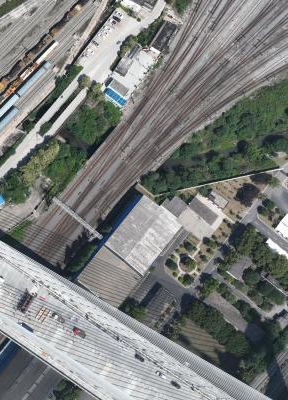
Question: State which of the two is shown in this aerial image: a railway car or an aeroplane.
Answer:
railway car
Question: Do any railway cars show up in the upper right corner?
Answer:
No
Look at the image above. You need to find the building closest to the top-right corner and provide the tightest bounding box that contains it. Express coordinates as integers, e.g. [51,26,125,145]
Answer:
[149,20,178,51]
